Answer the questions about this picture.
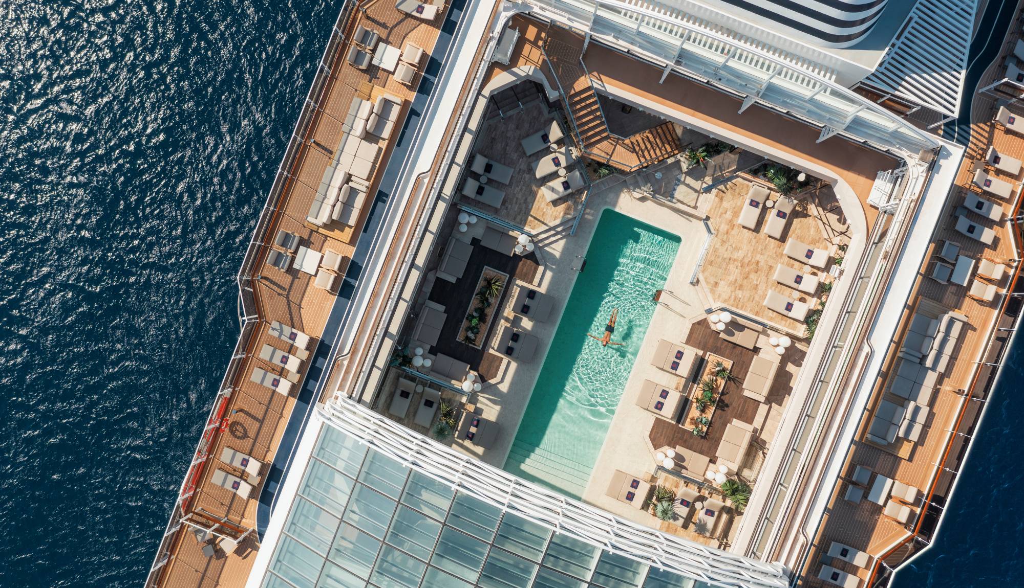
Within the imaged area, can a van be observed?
No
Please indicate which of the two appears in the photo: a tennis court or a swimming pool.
swimming pool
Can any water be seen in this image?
Yes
